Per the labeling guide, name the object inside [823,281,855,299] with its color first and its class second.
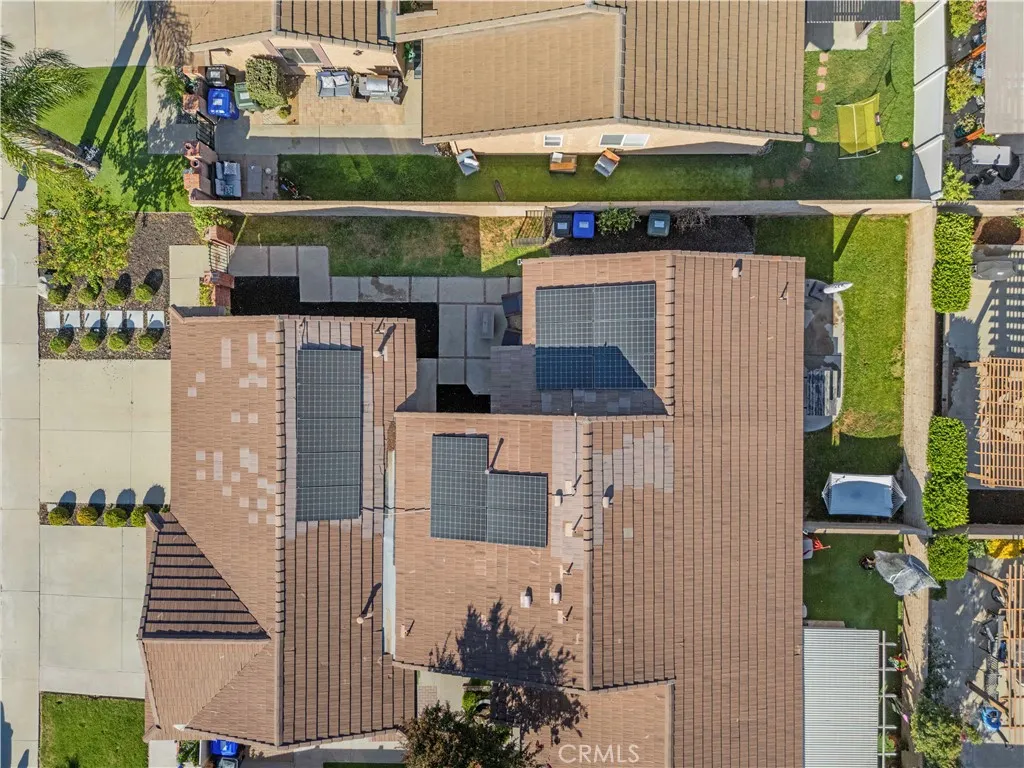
white umbrella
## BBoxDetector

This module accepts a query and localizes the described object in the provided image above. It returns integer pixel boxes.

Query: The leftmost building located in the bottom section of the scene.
[136,249,806,768]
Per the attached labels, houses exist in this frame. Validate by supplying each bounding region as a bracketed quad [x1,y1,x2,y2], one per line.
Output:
[136,249,806,768]
[147,0,806,153]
